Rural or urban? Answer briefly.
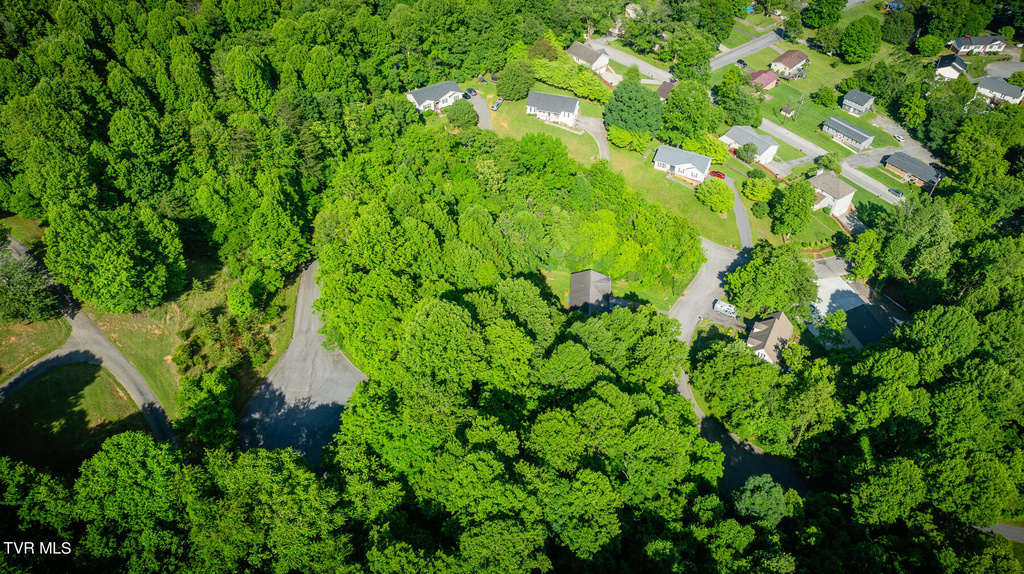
rural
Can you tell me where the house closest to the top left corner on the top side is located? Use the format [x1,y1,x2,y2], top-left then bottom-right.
[404,81,462,114]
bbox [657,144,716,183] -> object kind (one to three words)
house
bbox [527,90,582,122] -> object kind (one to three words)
house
